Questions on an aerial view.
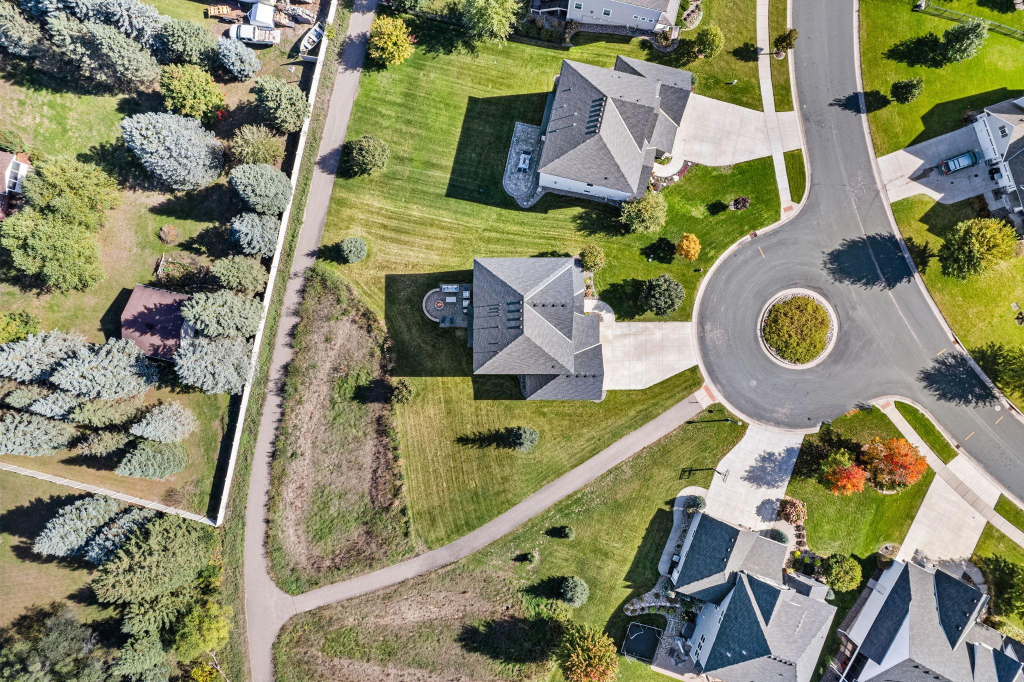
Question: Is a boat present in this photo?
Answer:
Yes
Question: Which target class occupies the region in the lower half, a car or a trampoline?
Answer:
trampoline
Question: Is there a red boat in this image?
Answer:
No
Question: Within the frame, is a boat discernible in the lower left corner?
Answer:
No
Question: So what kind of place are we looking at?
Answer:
residential area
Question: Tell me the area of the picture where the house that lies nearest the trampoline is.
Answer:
bottom right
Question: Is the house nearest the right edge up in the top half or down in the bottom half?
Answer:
top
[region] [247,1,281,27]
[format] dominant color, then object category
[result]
white trailer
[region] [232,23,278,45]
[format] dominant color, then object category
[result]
white truck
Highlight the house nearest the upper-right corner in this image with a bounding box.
[972,93,1024,219]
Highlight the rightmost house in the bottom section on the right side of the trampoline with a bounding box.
[844,560,1024,682]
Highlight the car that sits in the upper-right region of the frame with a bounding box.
[942,149,983,176]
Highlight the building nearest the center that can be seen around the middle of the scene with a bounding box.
[468,257,604,400]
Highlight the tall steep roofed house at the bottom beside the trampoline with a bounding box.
[672,512,837,682]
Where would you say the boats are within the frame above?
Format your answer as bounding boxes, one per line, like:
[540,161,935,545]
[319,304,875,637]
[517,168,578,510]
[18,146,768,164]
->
[296,21,320,54]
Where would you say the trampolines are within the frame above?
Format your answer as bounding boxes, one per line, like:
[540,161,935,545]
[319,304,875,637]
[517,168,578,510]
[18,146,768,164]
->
[621,621,663,662]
